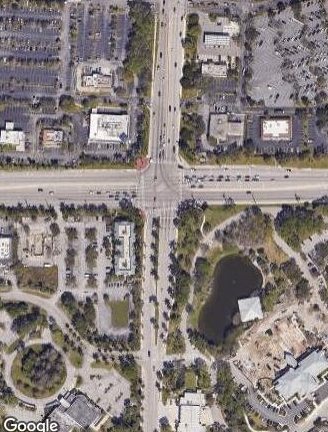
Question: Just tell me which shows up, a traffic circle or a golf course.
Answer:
traffic circle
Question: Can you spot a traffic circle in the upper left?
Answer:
No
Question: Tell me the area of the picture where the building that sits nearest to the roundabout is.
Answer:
bottom left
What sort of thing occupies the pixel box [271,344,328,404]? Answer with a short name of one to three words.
building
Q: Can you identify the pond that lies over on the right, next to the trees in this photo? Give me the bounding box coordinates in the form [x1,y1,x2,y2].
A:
[198,254,263,343]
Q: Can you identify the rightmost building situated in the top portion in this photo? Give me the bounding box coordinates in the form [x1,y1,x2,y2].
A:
[260,115,293,141]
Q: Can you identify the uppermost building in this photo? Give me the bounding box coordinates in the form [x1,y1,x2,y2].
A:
[202,63,227,77]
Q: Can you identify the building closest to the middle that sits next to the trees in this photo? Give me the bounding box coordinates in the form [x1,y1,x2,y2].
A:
[113,221,135,276]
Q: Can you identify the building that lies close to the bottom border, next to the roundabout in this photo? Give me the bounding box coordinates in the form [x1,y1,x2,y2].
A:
[45,390,102,432]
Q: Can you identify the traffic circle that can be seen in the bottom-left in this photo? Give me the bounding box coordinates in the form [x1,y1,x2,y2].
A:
[4,335,73,404]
